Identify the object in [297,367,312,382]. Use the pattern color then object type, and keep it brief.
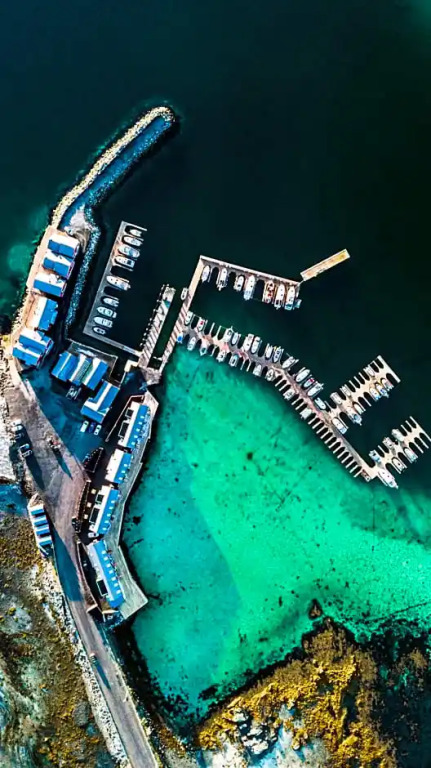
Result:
white boat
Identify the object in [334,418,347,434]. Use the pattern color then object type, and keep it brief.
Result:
white boat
